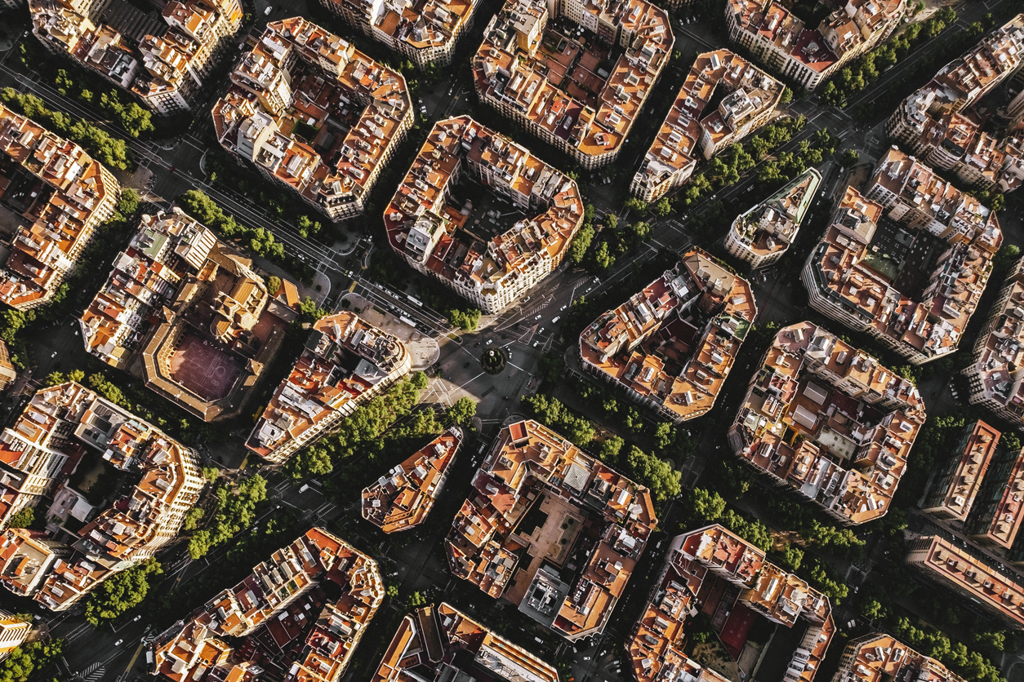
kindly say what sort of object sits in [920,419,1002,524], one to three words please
building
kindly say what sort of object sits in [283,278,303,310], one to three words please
house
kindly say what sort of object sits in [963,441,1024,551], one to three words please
building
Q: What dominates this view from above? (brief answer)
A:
buildings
